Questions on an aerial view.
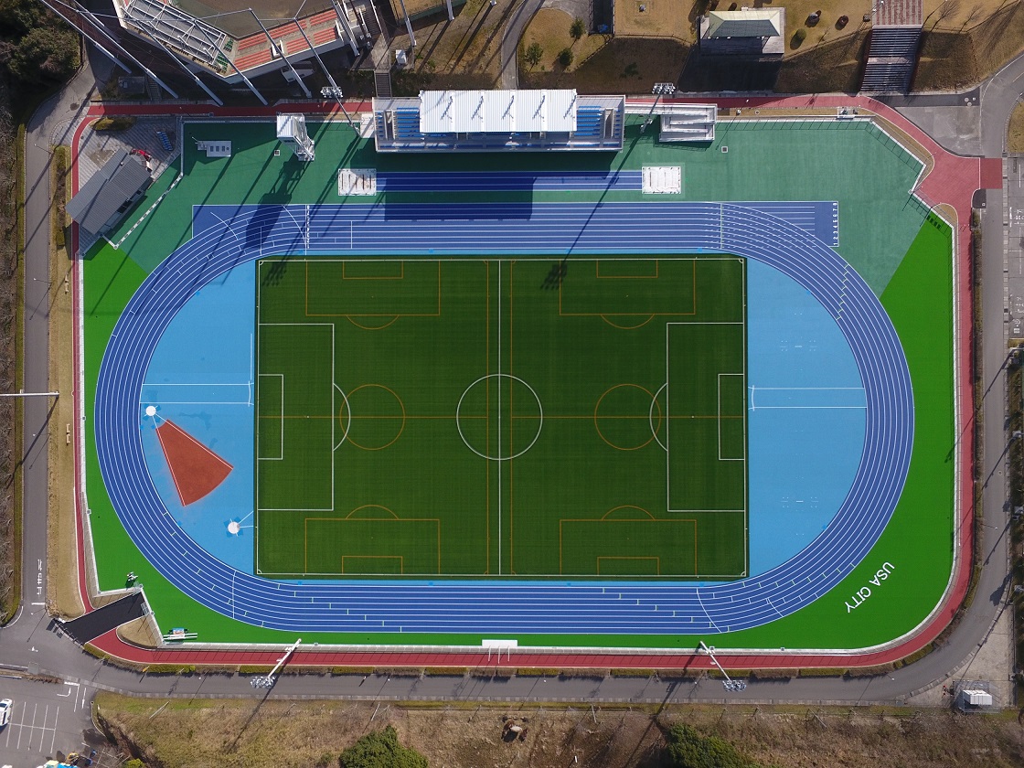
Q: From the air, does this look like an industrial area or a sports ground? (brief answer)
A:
sports ground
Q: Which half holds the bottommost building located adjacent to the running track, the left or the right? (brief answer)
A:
left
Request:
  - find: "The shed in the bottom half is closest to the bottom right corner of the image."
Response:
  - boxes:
[964,689,997,705]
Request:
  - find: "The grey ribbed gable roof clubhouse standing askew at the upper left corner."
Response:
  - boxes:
[66,148,160,259]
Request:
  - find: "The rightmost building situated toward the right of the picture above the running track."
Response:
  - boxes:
[699,6,785,56]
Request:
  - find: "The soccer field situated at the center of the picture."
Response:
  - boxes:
[253,254,749,581]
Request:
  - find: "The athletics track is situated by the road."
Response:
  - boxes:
[93,202,916,634]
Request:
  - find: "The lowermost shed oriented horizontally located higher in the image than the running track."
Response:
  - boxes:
[188,135,234,159]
